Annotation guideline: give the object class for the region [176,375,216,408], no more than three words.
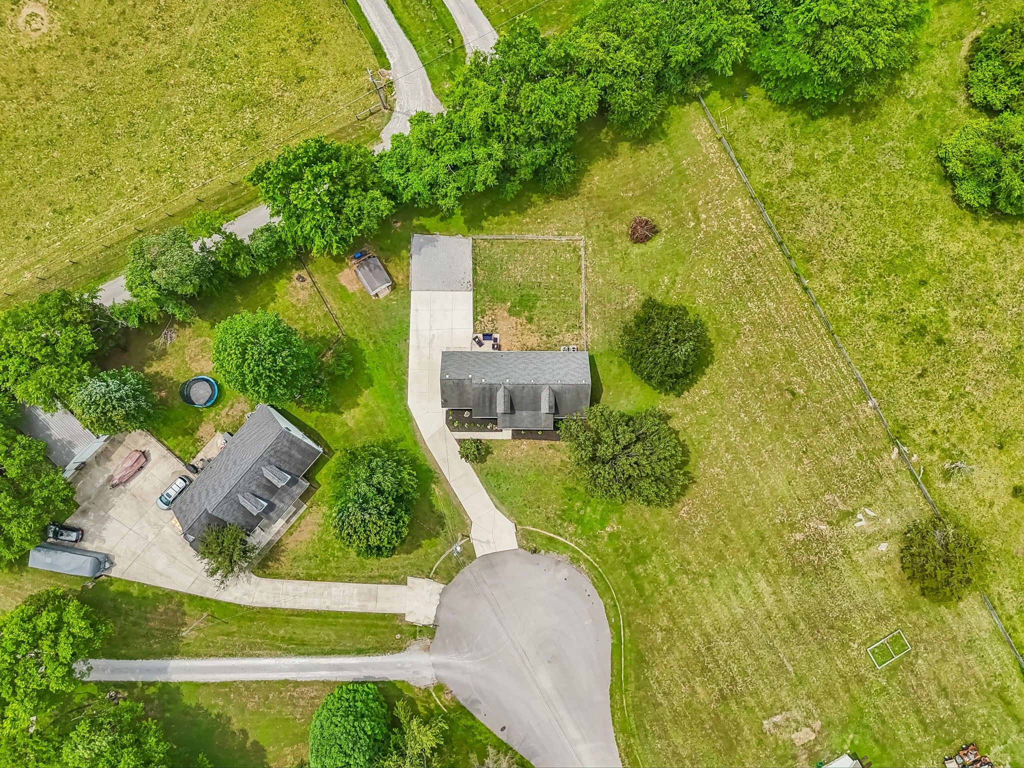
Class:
trampoline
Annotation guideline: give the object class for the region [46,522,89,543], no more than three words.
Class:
car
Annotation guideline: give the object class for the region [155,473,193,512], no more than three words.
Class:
car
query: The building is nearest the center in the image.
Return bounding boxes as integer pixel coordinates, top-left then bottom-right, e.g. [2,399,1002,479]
[439,350,591,430]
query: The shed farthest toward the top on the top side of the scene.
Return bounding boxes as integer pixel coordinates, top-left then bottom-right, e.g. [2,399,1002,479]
[353,253,391,298]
